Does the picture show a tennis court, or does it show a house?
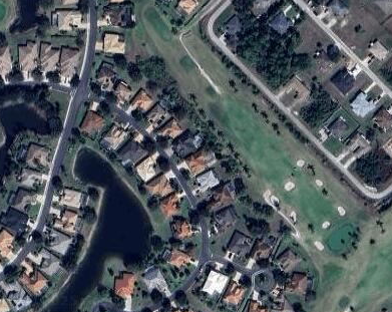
house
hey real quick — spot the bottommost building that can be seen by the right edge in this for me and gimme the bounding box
[349,131,374,157]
